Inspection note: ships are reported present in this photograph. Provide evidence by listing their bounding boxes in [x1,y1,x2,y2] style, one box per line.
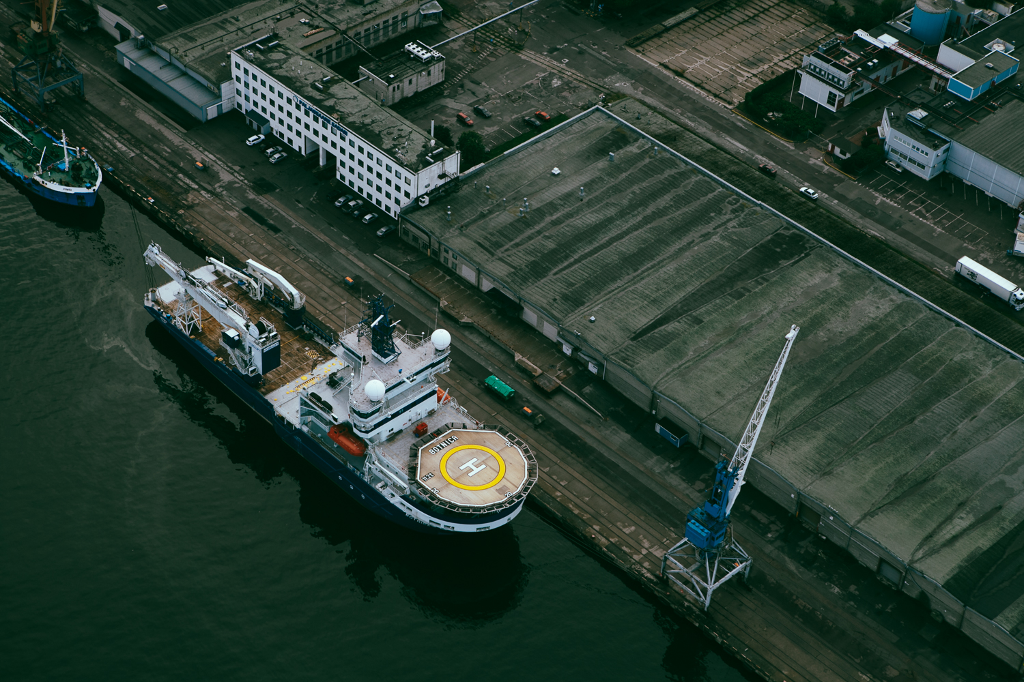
[142,237,537,532]
[0,96,100,208]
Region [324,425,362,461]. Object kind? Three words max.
boat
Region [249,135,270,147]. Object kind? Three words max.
vehicle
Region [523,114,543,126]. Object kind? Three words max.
vehicle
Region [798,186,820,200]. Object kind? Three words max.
car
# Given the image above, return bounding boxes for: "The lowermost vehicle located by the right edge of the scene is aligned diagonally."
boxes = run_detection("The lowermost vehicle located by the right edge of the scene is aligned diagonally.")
[955,256,1024,313]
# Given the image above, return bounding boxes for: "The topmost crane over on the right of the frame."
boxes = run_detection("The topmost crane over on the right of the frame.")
[655,324,797,614]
